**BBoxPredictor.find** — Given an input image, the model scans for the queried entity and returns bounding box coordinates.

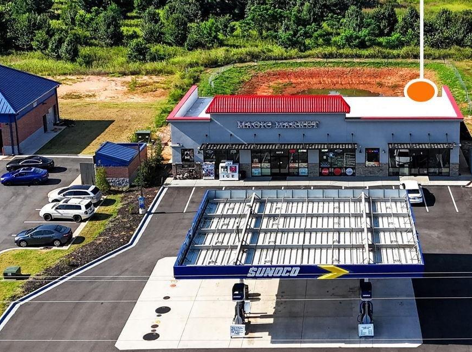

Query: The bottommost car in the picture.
[11,221,76,246]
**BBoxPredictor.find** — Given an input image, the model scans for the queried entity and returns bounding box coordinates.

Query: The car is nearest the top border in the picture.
[3,151,56,169]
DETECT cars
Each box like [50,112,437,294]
[400,181,423,204]
[0,165,49,184]
[36,195,96,221]
[11,221,76,246]
[3,151,56,169]
[49,181,103,202]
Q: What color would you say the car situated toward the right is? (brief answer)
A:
white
